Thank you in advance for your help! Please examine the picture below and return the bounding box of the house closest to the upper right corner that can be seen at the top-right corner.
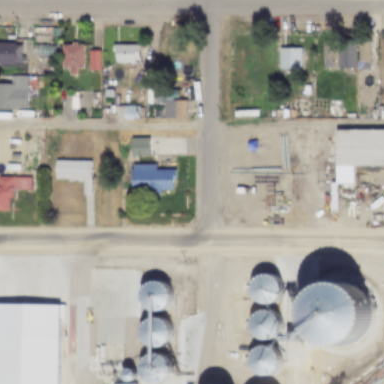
[324,42,359,69]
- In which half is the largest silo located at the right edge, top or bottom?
bottom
